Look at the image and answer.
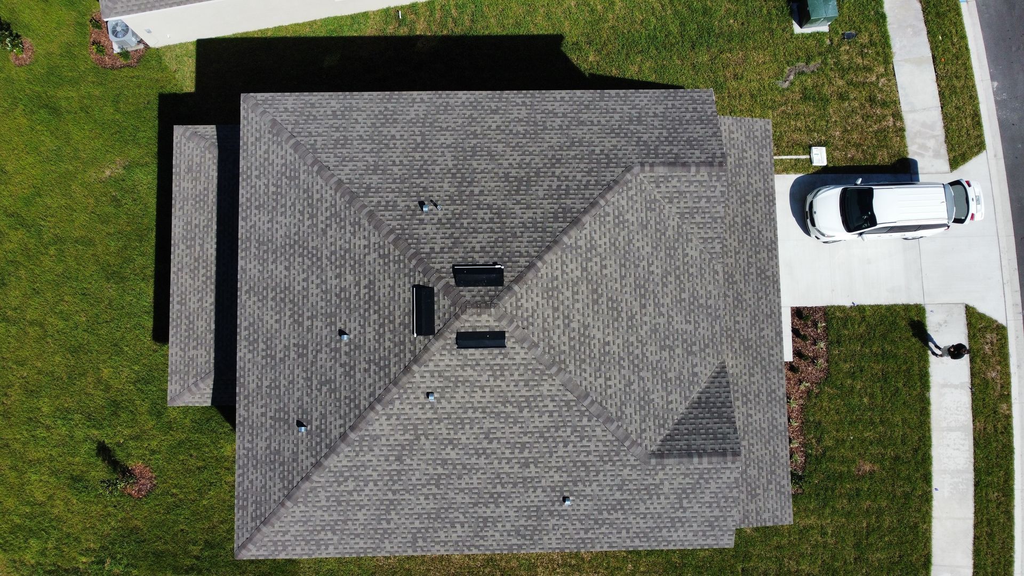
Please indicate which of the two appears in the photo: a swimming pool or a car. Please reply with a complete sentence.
The image shows a car.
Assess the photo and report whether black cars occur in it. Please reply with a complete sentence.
No, the picture doesn't show any black car.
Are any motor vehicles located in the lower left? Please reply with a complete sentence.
No, there's no motor vehicle to be seen in the lower left.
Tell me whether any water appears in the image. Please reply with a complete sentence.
No, there is no water in the image.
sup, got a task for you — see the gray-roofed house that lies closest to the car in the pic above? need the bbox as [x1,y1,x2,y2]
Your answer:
[167,90,792,560]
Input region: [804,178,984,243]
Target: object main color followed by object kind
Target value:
white car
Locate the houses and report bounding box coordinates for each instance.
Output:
[167,90,792,560]
[101,0,415,47]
